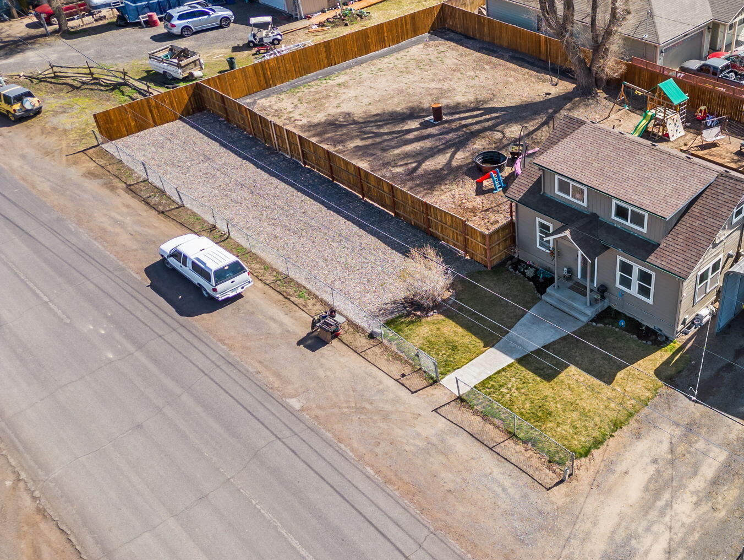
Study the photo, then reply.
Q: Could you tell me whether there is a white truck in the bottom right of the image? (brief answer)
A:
No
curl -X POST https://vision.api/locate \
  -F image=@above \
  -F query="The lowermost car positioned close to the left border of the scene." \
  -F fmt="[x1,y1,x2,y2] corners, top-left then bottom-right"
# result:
[0,75,43,117]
